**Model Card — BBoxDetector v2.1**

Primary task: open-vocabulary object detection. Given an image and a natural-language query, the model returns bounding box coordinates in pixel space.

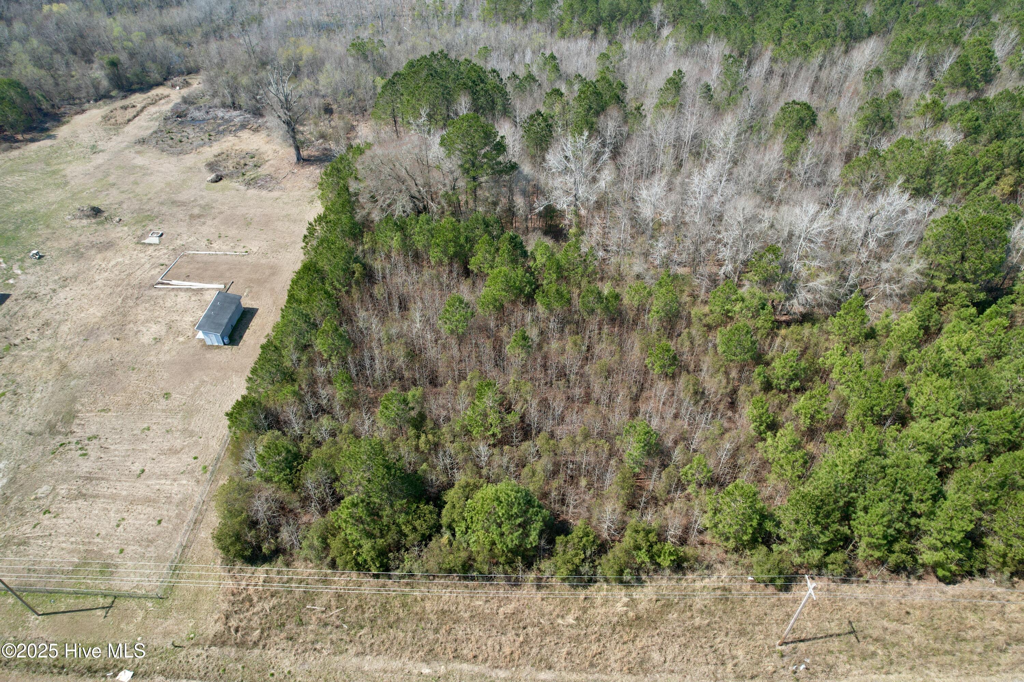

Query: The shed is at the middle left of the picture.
[193,292,244,345]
